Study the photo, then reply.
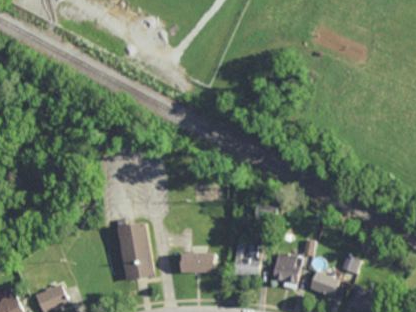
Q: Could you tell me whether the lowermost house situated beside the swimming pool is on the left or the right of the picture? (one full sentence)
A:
The lowermost house situated beside the swimming pool appears in the right half of the scene.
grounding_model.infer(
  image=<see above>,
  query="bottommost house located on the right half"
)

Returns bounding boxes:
[310,272,341,297]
